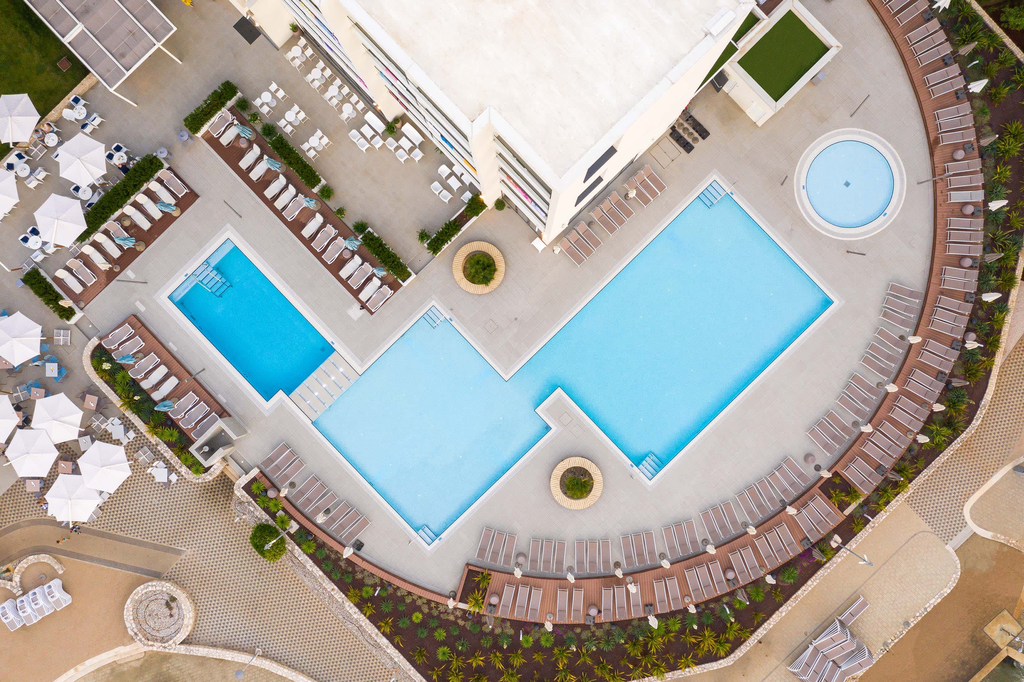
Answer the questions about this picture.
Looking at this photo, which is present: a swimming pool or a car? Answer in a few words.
swimming pool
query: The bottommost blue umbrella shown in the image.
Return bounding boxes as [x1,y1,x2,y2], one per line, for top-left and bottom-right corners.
[154,398,180,410]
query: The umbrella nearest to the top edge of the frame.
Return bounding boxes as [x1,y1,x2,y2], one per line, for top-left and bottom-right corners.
[922,0,952,22]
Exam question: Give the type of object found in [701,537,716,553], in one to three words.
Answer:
umbrella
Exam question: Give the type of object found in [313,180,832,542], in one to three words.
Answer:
swimming pool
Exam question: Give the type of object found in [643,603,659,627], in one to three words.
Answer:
umbrella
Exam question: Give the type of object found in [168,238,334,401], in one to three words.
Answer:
swimming pool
